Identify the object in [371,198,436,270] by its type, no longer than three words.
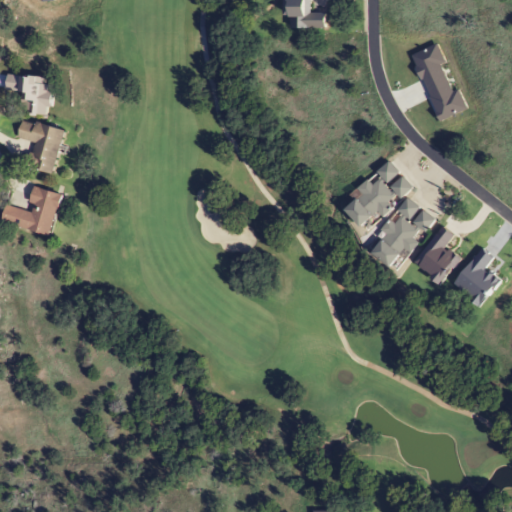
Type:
house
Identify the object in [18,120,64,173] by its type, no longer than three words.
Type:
house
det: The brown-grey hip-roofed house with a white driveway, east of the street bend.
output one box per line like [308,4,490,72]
[410,44,468,119]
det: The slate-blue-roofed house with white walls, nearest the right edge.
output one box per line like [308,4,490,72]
[455,249,504,304]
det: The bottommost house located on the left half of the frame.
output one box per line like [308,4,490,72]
[2,186,62,234]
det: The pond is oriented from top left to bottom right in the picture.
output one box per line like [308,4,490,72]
[356,401,468,496]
